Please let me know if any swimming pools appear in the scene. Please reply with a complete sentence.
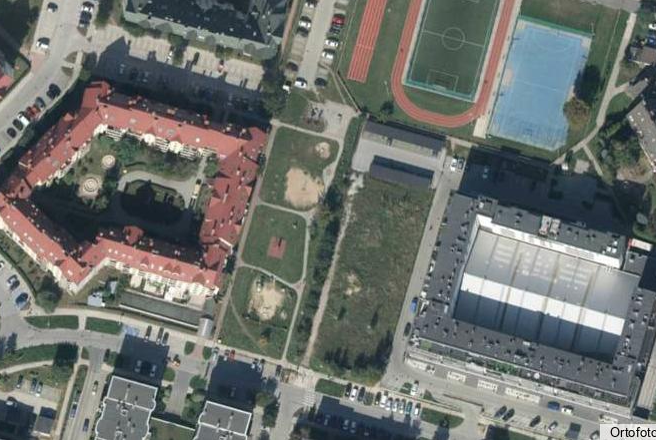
No, I find no swimming pool anywhere in the image.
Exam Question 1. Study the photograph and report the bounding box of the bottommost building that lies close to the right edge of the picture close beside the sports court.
[413,191,656,422]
